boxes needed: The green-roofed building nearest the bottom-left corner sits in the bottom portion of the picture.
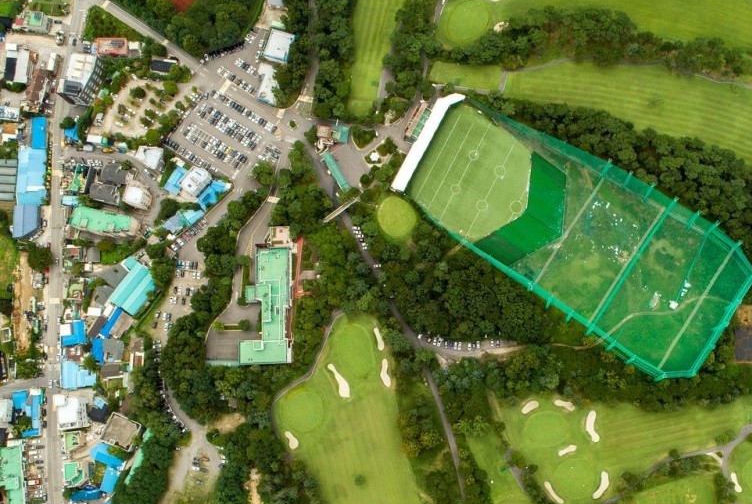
[0,444,29,504]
